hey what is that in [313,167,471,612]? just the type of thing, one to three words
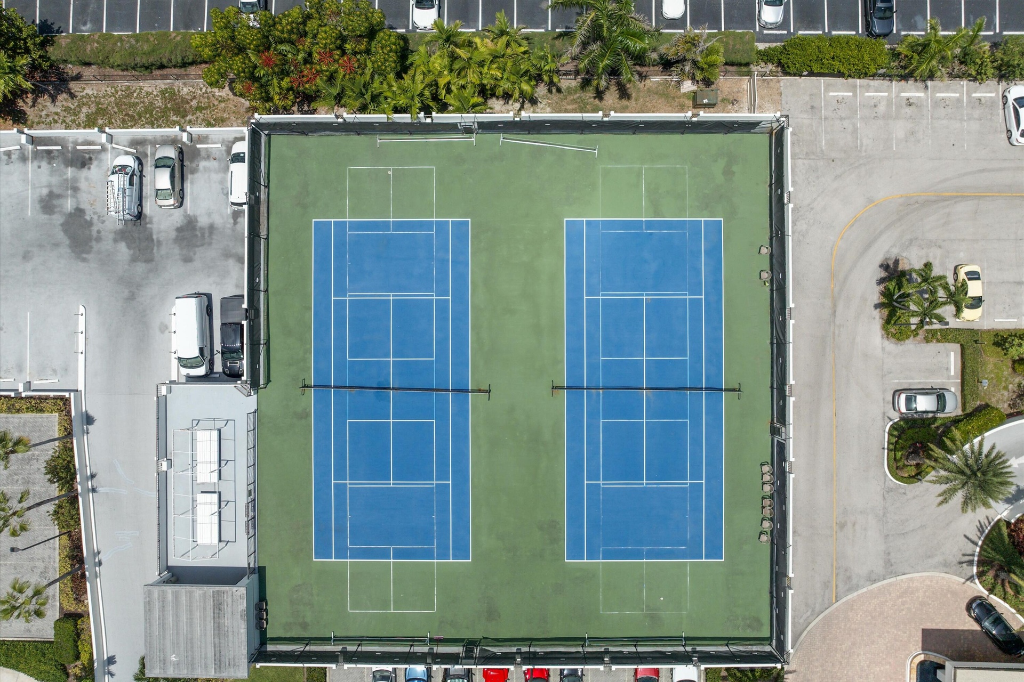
tennis court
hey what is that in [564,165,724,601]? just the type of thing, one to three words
tennis court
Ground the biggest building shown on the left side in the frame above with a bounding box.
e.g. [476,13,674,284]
[144,575,266,678]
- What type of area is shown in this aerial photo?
sports ground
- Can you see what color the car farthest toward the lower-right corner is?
black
